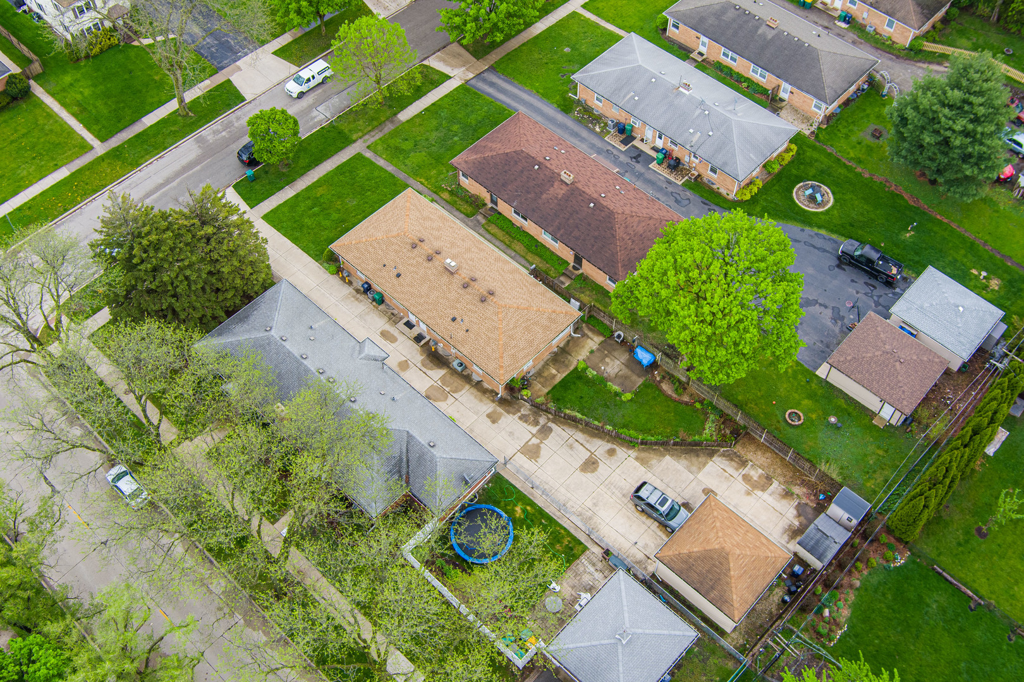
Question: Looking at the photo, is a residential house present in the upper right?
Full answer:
Yes, looking in the upper right, one can make out a residential house.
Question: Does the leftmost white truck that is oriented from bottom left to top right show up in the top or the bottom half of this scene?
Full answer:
The leftmost white truck that is oriented from bottom left to top right sits in the top half of the picture.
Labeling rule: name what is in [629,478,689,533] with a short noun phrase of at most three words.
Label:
car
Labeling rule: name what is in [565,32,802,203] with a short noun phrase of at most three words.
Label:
house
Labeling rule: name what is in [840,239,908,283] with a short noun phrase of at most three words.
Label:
truck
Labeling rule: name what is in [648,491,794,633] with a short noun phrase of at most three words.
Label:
building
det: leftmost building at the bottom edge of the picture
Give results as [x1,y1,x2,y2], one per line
[544,565,702,682]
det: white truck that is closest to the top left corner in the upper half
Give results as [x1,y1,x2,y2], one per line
[280,57,335,99]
